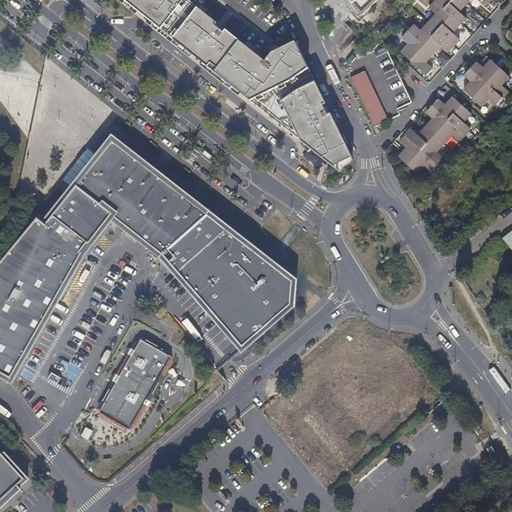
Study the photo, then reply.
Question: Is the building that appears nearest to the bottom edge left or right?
left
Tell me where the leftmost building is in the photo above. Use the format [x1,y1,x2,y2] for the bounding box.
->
[0,445,30,510]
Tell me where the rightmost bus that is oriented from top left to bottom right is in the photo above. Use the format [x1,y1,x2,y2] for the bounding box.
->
[488,364,512,396]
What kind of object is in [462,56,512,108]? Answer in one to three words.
house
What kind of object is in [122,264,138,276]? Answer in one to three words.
vehicle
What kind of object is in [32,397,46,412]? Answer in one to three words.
vehicle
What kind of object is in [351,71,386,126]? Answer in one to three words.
building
